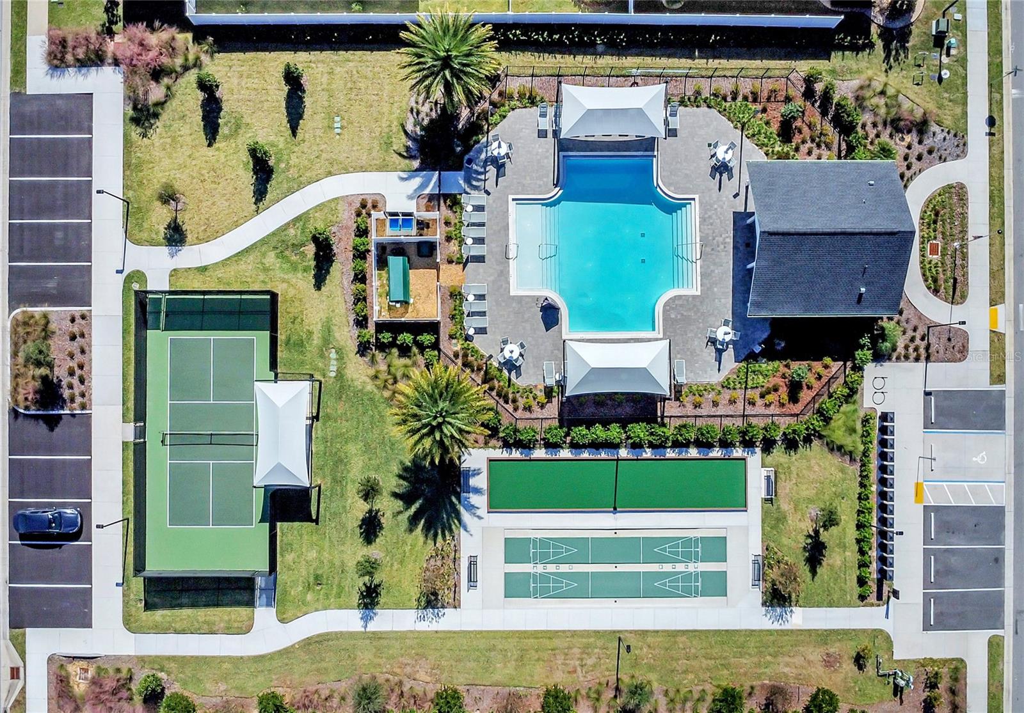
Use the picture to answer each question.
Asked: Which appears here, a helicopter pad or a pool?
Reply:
pool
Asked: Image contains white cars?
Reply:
No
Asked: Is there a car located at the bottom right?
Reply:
No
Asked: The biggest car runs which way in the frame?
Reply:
from side to side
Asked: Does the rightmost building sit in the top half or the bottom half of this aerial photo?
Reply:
top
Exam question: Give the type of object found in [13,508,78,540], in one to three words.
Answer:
car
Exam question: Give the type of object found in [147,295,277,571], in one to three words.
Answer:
sports court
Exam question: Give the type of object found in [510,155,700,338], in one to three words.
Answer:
swimming pool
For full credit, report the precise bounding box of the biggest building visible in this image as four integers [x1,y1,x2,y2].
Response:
[743,160,914,318]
